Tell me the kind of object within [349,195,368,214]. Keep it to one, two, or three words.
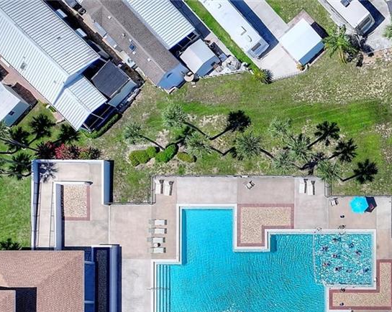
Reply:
umbrella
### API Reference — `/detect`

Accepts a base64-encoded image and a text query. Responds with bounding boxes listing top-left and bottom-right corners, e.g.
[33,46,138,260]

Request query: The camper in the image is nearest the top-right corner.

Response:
[329,0,376,39]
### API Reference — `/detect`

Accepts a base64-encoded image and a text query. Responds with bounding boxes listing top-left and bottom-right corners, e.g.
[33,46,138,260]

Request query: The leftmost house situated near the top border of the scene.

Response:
[0,0,107,104]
